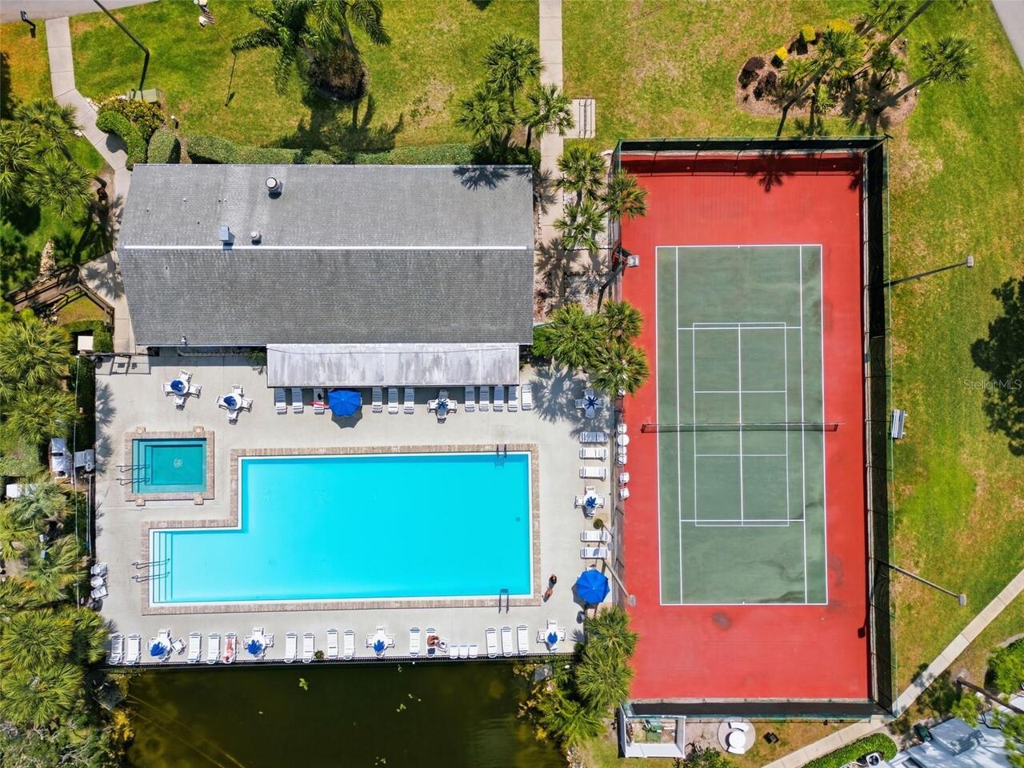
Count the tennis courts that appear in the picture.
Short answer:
1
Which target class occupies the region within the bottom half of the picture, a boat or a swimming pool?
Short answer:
swimming pool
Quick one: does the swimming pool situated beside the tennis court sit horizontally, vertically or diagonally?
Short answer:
horizontally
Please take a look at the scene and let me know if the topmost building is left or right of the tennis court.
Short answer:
to the left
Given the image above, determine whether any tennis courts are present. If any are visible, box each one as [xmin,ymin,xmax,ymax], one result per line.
[614,152,875,704]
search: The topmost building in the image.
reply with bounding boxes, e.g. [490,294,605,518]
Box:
[118,163,535,347]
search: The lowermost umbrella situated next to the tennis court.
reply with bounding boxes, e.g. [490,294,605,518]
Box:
[574,568,610,605]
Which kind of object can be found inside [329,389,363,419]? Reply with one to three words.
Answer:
umbrella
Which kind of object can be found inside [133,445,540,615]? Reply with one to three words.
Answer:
swimming pool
